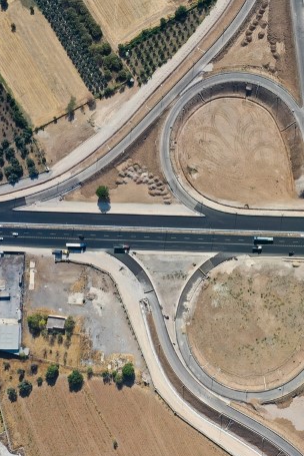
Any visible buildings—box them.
[46,315,69,332]
[0,317,25,349]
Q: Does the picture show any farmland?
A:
Yes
